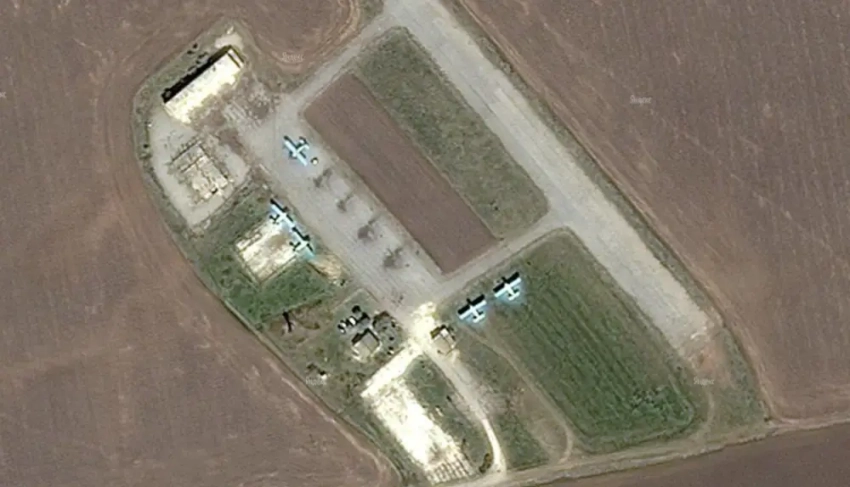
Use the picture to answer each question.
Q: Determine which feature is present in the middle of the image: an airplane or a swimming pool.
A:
airplane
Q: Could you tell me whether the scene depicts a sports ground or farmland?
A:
farmland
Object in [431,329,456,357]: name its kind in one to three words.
house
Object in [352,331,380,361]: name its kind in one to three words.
house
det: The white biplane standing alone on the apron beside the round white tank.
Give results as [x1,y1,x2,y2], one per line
[286,140,310,165]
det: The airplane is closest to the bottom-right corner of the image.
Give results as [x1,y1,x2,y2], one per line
[495,280,522,303]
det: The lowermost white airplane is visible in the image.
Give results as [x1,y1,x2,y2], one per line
[460,301,486,324]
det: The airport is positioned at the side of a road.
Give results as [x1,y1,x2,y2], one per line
[240,0,713,358]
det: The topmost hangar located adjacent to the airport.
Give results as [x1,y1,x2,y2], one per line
[164,51,243,118]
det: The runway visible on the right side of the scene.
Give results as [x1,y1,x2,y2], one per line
[387,0,713,358]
